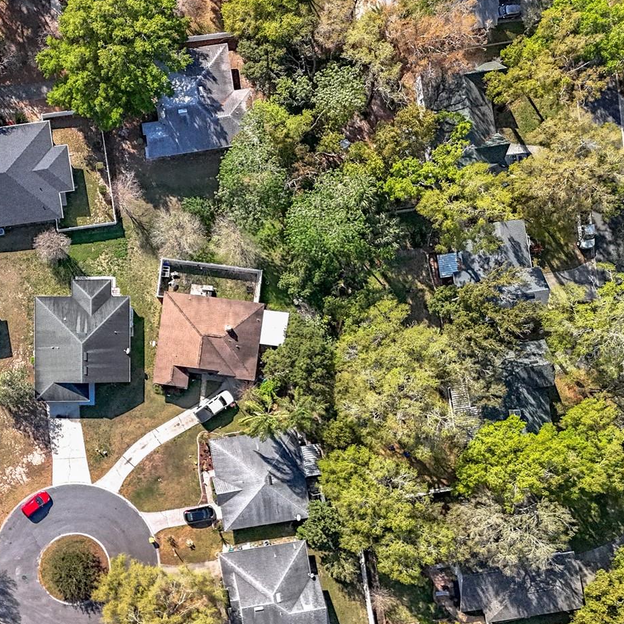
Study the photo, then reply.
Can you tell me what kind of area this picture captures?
residential area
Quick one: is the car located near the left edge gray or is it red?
red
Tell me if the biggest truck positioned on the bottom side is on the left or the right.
left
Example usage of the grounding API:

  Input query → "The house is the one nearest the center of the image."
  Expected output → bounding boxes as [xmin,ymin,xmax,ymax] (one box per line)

[153,291,265,389]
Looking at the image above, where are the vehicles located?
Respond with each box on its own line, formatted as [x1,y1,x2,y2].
[576,216,597,251]
[183,506,216,522]
[21,491,53,516]
[496,2,520,20]
[192,389,237,425]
